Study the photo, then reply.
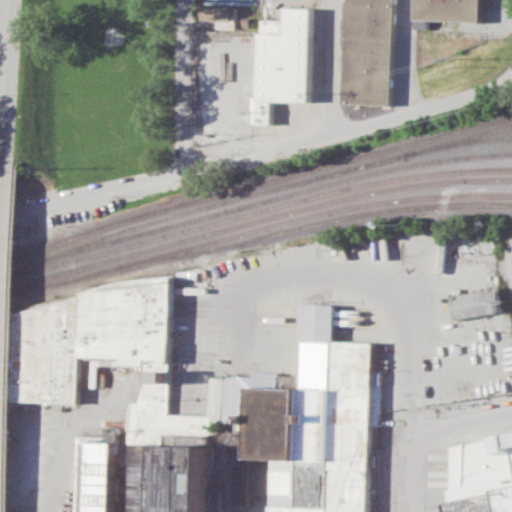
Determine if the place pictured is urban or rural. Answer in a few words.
urban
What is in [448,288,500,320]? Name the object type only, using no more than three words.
shed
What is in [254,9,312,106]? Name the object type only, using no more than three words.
building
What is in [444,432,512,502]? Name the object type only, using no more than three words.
building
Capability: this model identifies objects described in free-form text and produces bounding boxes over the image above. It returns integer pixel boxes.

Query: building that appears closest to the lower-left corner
[74,434,113,512]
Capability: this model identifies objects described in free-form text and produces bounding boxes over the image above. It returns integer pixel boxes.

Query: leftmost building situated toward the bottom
[18,296,82,404]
